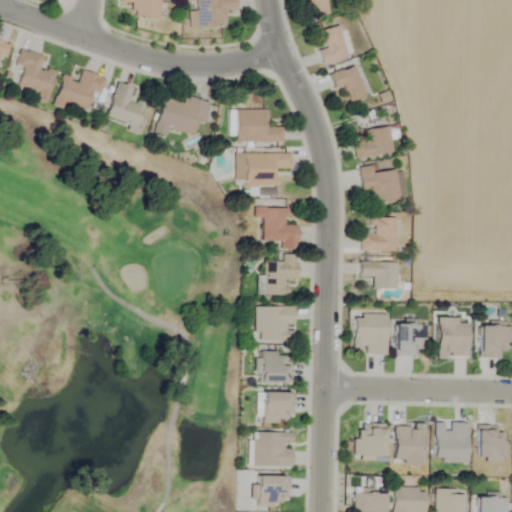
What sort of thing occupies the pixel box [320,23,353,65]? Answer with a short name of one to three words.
house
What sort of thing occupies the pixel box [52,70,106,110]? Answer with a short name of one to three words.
house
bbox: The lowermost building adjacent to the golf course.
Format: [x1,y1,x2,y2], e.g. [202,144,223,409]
[252,476,291,507]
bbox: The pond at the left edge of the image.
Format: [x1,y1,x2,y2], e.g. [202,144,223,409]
[2,331,167,512]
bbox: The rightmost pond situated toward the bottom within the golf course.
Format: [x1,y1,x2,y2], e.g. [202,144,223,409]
[178,419,224,481]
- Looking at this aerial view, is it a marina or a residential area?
residential area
